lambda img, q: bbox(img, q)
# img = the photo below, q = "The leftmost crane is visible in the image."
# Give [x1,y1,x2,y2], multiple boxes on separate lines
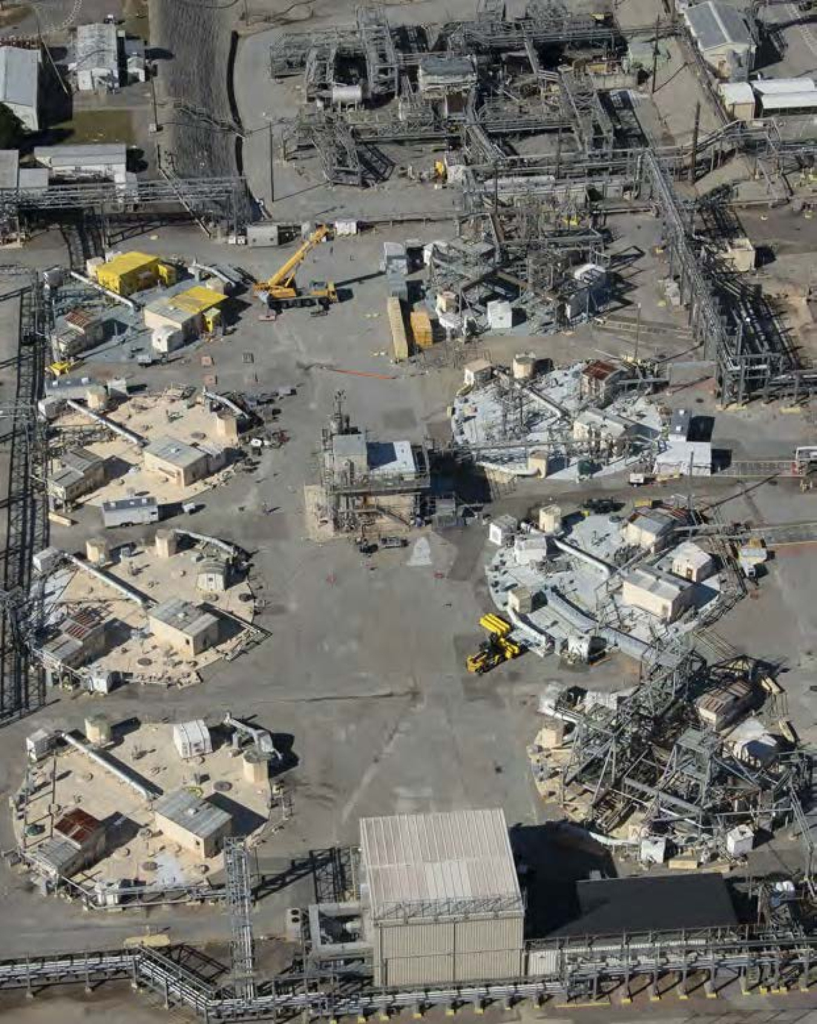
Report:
[254,223,339,312]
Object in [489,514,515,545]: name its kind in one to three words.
house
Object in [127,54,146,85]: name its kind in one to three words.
building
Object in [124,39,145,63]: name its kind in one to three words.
shed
